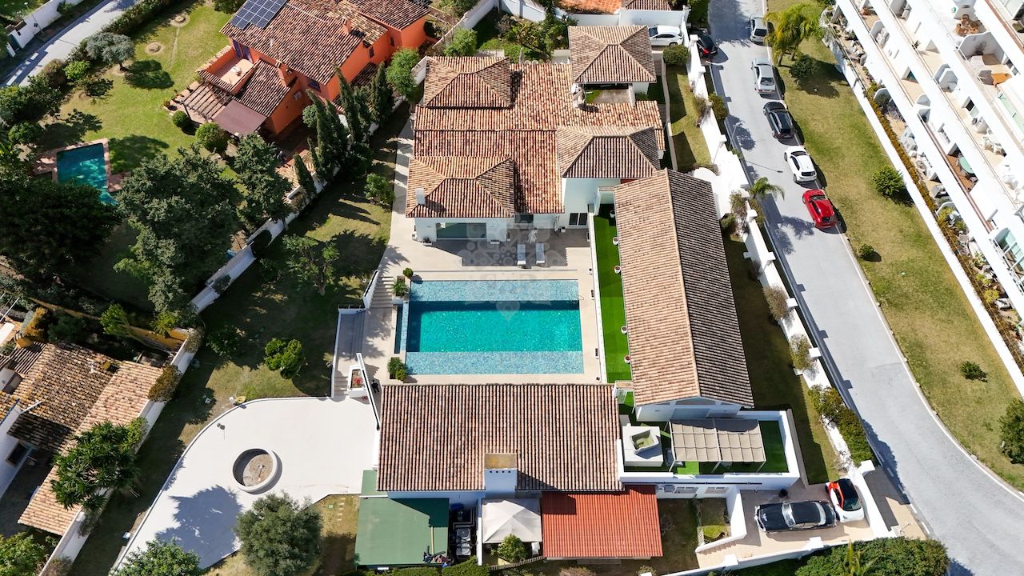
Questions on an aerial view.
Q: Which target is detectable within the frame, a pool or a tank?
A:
pool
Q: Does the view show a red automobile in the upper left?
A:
No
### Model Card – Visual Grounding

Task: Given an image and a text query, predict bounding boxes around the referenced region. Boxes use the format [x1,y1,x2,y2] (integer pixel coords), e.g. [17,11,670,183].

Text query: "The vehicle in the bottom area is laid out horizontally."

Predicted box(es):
[757,495,842,532]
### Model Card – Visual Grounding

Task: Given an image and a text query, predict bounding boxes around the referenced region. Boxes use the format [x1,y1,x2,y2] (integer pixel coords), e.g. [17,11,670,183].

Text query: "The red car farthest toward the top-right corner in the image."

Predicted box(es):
[805,186,844,228]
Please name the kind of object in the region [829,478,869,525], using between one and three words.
car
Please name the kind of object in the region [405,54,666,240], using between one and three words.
house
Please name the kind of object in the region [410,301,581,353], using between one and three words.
swimming pool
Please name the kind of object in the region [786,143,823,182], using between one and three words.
car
